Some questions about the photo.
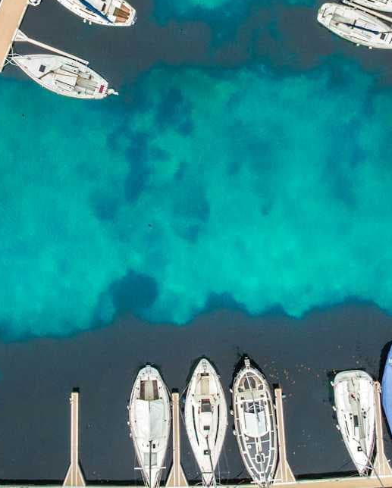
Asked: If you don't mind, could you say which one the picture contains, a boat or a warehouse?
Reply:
boat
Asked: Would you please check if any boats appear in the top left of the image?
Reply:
Yes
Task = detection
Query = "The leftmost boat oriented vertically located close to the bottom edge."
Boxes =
[127,360,171,488]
